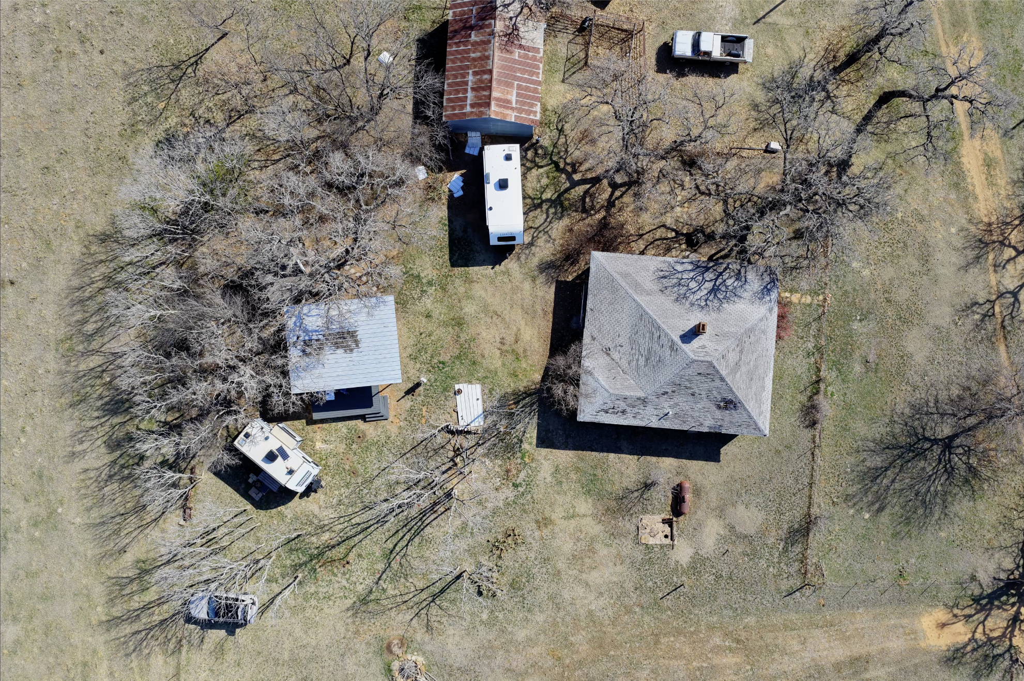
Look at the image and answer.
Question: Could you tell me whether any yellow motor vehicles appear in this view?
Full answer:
No, there appears to be no yellow motor vehicle in this shot.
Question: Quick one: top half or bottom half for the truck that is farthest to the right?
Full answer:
The truck that is farthest to the right sits in the top half of the picture.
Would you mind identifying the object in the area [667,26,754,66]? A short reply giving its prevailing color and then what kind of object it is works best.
white truck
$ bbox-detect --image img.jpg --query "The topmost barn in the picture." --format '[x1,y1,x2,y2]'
[443,0,546,139]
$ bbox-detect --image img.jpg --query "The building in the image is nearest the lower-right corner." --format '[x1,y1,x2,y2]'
[576,250,779,438]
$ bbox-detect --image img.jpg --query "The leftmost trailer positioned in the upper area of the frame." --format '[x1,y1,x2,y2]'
[482,144,524,260]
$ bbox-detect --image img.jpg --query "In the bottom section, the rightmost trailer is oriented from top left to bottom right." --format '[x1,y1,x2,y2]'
[234,411,338,494]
